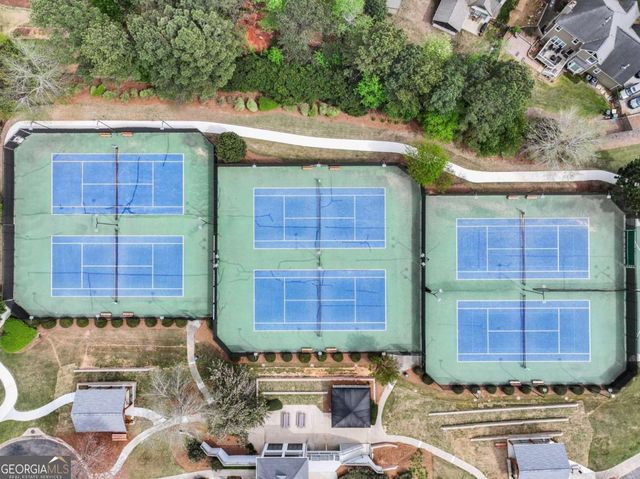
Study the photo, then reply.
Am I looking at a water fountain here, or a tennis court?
tennis court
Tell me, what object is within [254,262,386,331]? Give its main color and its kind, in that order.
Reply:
blue tennis court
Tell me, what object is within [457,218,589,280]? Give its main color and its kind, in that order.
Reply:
blue tennis court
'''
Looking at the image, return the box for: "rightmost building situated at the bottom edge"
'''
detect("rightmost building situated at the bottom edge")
[503,433,569,479]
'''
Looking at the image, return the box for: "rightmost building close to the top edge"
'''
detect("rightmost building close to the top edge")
[531,0,640,93]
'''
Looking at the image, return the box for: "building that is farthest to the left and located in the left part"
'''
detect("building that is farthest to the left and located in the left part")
[71,381,137,431]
